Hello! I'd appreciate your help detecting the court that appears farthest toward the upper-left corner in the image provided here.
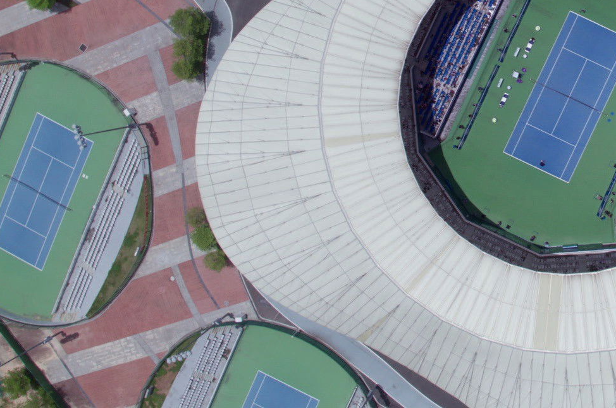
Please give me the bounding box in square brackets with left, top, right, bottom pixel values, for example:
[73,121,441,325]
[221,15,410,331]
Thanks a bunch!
[0,62,133,318]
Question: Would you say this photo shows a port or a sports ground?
sports ground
